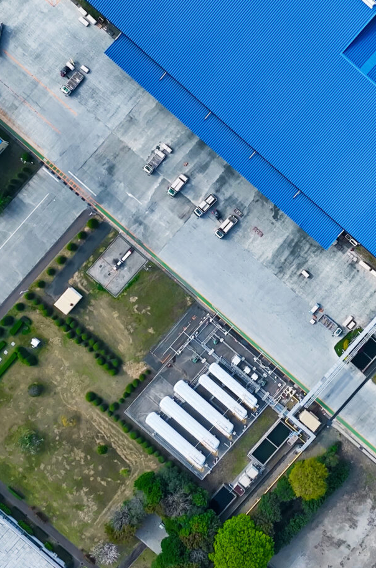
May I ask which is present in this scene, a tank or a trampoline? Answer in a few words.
tank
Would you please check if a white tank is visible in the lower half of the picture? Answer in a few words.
Yes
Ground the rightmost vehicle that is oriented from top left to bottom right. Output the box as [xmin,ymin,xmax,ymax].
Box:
[314,309,347,338]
